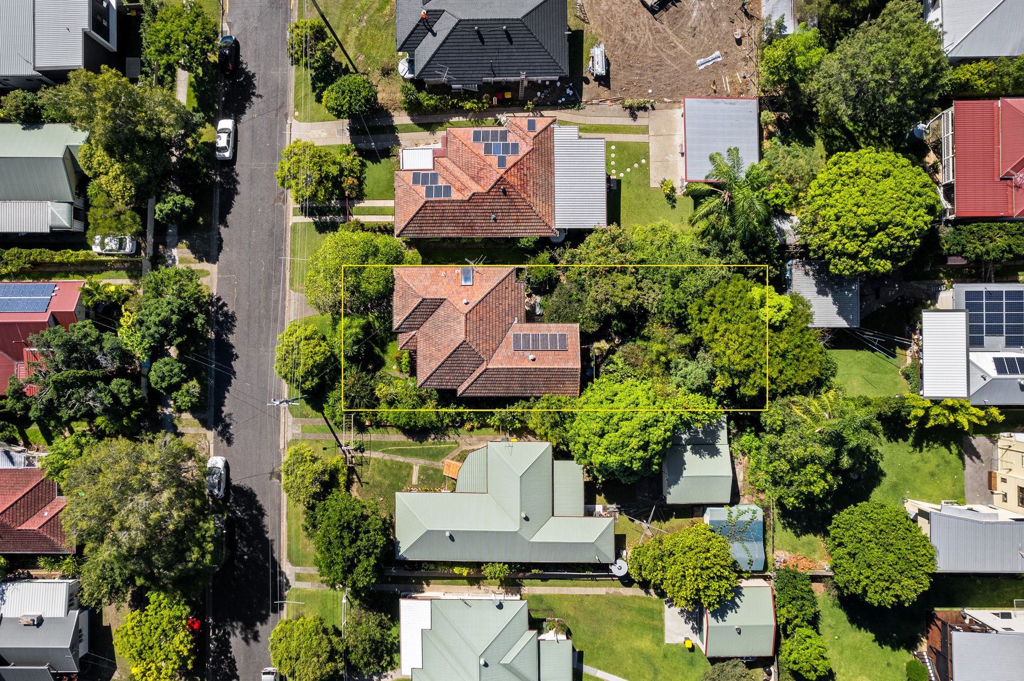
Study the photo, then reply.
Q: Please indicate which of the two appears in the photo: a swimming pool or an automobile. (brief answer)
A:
automobile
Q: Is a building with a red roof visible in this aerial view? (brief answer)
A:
Yes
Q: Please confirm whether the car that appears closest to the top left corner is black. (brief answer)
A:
Yes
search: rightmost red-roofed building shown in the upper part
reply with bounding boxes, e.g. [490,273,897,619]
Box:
[930,97,1024,221]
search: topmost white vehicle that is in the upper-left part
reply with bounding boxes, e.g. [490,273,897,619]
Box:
[214,120,235,160]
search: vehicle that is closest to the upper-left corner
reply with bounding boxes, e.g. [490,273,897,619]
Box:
[217,35,239,75]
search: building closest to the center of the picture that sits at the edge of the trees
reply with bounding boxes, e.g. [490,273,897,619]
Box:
[392,264,580,398]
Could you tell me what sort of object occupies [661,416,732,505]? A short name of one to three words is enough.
building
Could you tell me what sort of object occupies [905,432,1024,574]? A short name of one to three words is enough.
house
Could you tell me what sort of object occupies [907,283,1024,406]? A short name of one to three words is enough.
house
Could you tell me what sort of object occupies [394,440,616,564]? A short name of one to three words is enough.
building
